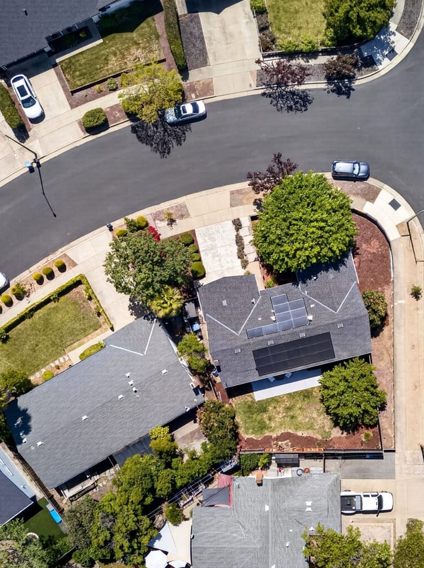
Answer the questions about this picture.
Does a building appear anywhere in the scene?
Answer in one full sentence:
Yes, a building is visible in the scene.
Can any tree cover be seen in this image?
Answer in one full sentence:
Yes, there's tree cover in this view.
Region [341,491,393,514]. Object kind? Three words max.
vehicle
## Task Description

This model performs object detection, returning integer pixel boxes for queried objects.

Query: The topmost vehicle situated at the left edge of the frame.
[11,73,44,121]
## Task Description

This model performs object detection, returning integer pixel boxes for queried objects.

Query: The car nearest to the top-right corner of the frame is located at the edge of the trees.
[331,161,370,181]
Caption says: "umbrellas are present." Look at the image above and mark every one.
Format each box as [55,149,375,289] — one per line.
[146,548,168,568]
[169,559,187,567]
